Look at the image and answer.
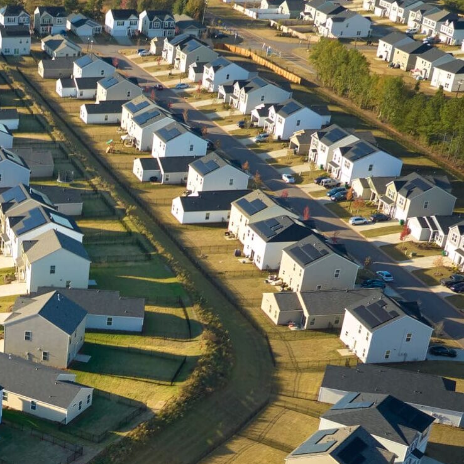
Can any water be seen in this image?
No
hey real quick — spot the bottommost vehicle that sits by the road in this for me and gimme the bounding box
[428,343,458,355]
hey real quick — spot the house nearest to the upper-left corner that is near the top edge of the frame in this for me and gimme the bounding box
[0,4,31,27]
